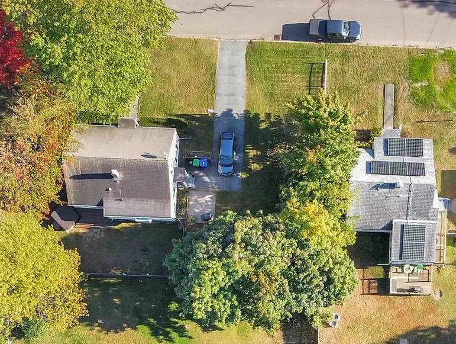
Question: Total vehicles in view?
2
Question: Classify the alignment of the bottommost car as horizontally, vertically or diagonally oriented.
vertically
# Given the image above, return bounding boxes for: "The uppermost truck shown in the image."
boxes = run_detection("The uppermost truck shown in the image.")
[305,14,359,41]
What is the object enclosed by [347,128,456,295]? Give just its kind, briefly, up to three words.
house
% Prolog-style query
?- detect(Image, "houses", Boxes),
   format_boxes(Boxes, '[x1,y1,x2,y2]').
[53,118,202,225]
[347,128,456,295]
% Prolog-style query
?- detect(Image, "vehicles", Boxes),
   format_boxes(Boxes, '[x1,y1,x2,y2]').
[305,14,359,41]
[214,129,235,176]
